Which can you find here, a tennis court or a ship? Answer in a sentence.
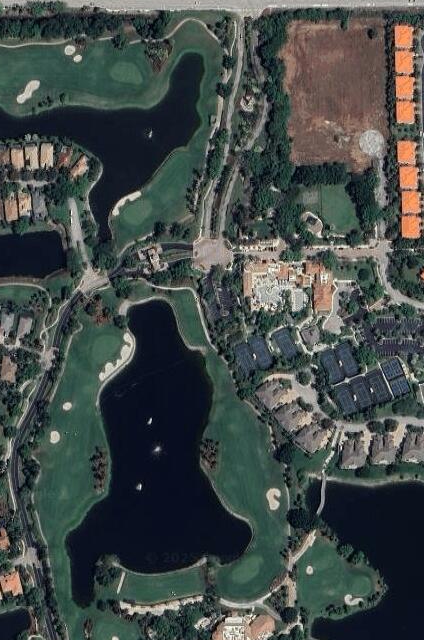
It is a tennis court that can be seen here.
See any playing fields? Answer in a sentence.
Yes, looking at the shot, I can spot a playing field.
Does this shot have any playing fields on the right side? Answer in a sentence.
Yes, I can see a playing field on the right side.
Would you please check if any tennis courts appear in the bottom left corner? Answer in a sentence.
No, looking in the bottom left corner, there is no tennis court.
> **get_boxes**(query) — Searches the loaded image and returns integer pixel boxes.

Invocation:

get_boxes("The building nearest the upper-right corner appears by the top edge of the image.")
[397,24,414,47]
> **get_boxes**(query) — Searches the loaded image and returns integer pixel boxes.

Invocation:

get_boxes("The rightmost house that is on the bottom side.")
[404,432,424,459]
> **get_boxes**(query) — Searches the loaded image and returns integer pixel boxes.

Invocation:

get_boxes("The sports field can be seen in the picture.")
[297,181,357,235]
